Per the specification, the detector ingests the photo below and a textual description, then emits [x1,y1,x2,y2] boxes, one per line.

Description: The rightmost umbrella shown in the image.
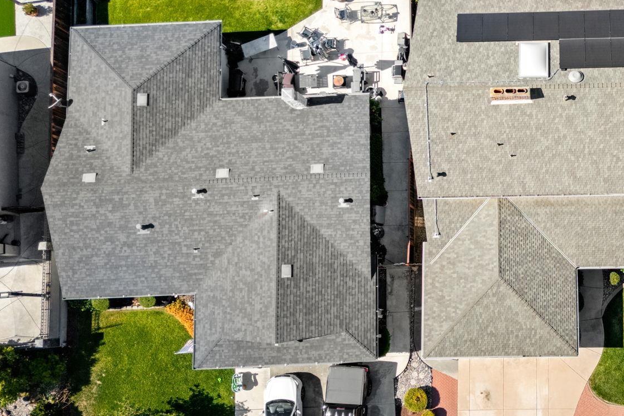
[347,54,361,74]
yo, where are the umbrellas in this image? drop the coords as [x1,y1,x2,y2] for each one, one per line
[281,56,304,77]
[347,54,361,74]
